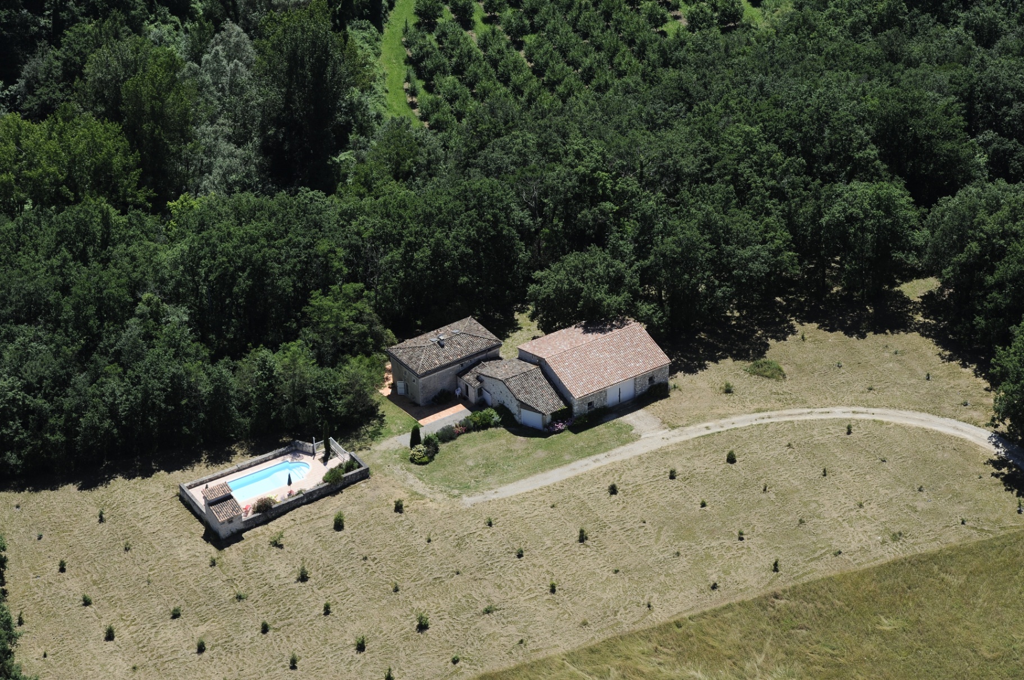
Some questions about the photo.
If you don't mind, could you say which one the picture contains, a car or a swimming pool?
swimming pool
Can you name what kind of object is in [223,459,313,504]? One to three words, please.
swimming pool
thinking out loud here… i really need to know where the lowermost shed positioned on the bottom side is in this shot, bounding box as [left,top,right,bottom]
[201,482,244,540]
